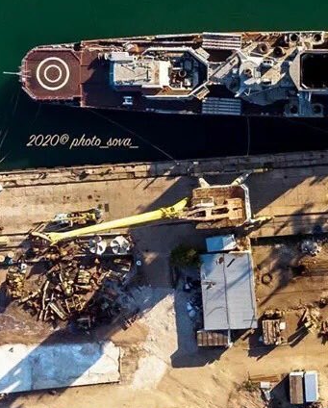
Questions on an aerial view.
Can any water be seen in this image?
Yes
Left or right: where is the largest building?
right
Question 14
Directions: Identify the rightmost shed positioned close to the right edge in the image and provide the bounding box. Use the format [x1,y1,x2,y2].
[305,369,320,404]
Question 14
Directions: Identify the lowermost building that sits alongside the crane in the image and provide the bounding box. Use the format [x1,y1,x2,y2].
[201,249,260,349]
